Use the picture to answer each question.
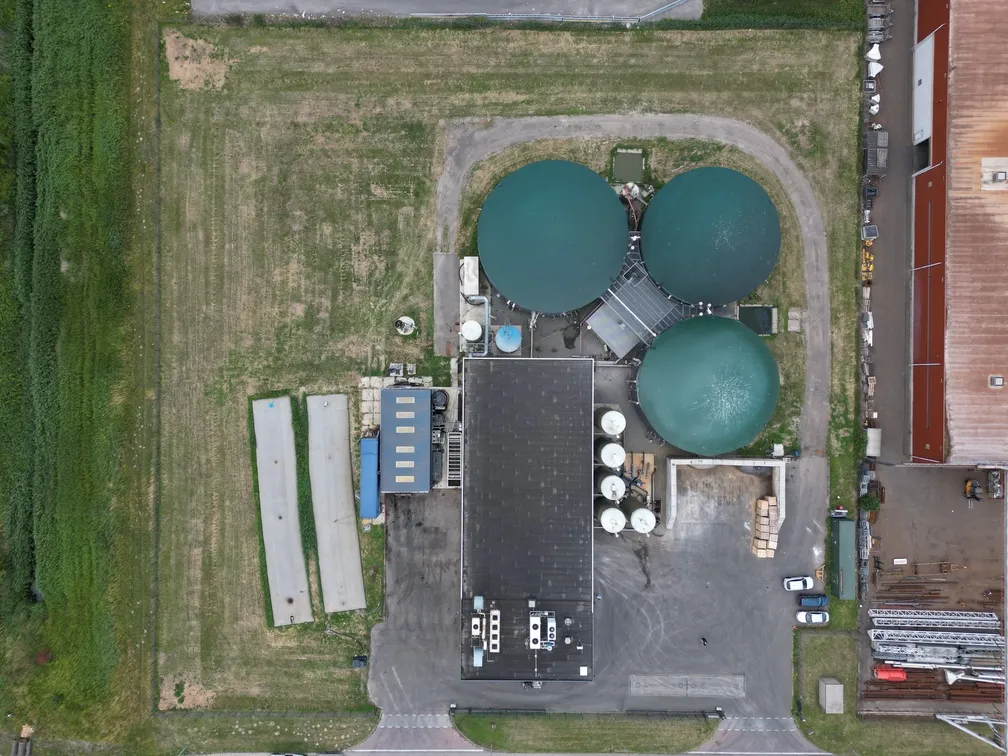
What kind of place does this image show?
industrial area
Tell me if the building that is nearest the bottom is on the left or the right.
right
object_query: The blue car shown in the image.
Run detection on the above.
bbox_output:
[797,593,828,608]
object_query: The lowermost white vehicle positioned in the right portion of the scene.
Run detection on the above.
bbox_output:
[796,609,830,624]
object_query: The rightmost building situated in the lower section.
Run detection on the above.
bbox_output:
[818,676,844,713]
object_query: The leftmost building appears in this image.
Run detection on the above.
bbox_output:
[381,388,433,492]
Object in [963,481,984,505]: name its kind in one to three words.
work vehicle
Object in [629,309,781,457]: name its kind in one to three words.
storage tank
